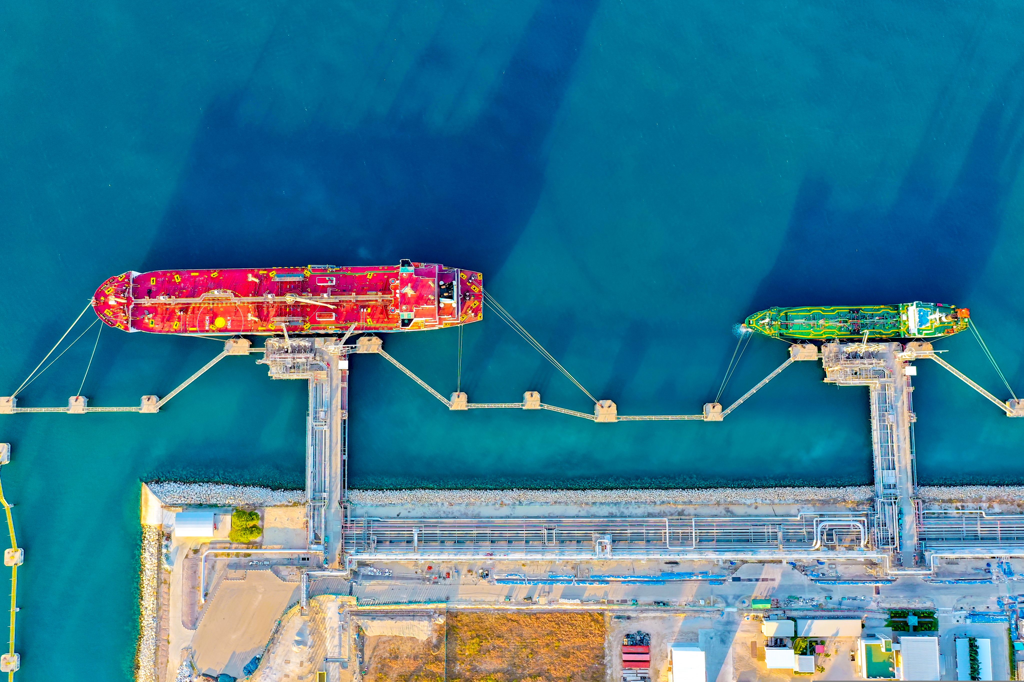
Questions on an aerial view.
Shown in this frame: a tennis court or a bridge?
bridge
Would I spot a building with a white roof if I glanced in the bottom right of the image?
Yes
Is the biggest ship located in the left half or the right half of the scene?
left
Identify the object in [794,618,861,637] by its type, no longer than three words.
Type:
building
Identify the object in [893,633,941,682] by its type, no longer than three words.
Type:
building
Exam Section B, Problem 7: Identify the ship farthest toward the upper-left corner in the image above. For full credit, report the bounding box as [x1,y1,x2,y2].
[91,259,484,337]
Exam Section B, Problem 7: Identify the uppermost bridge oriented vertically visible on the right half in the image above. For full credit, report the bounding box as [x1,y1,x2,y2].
[867,380,918,552]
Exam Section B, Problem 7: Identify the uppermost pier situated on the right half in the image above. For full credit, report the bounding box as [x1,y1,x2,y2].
[819,334,912,391]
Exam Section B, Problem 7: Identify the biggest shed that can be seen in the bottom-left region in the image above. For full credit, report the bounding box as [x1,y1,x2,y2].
[173,512,217,536]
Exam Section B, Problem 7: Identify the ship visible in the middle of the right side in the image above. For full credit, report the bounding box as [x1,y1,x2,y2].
[738,301,976,341]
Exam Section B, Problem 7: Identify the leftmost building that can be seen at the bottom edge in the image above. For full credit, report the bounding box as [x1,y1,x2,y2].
[667,644,706,682]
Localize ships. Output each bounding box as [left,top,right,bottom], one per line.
[91,259,484,337]
[738,301,976,341]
